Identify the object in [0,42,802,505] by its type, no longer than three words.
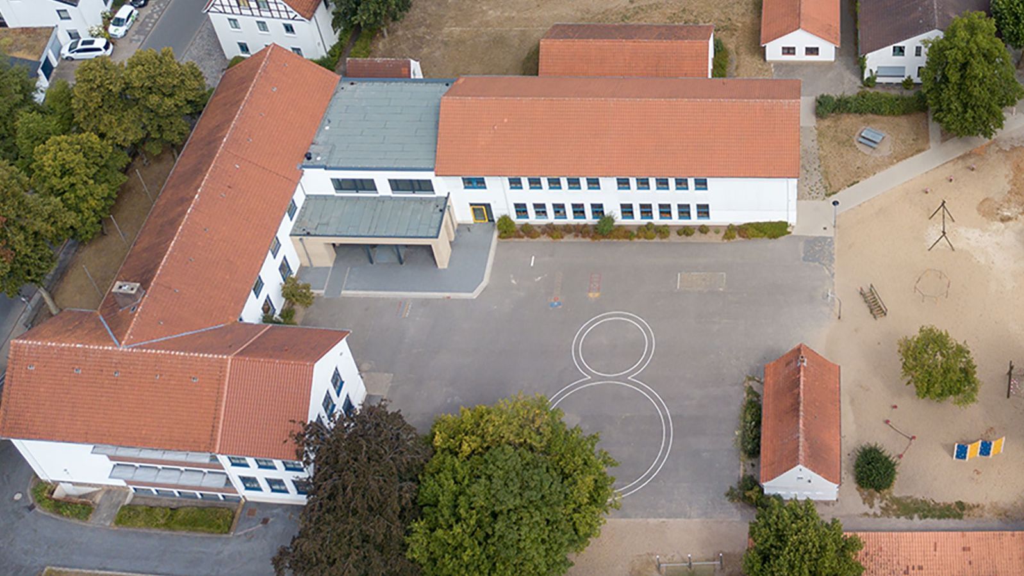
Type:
building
